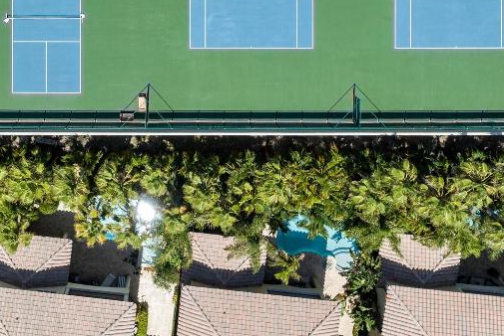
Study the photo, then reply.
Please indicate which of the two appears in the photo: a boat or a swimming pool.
swimming pool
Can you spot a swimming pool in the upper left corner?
No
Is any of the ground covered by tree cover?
Yes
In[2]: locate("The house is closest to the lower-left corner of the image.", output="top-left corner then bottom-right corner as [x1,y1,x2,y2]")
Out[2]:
[0,232,136,336]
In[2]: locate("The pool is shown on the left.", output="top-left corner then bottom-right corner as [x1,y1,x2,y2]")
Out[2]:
[93,187,162,268]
